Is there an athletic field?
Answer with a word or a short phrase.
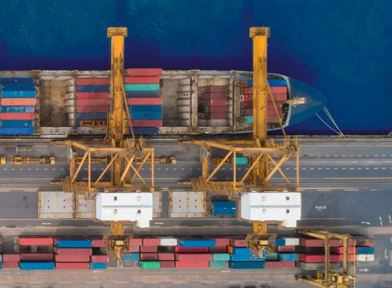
No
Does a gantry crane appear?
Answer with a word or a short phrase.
Yes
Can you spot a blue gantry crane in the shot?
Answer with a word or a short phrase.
No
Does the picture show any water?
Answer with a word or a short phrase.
Yes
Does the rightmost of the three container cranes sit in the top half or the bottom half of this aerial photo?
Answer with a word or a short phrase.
bottom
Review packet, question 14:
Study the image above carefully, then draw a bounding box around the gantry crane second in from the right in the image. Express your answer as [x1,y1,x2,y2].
[178,17,303,265]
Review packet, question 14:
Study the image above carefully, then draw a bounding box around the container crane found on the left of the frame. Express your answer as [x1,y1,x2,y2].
[51,17,156,265]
